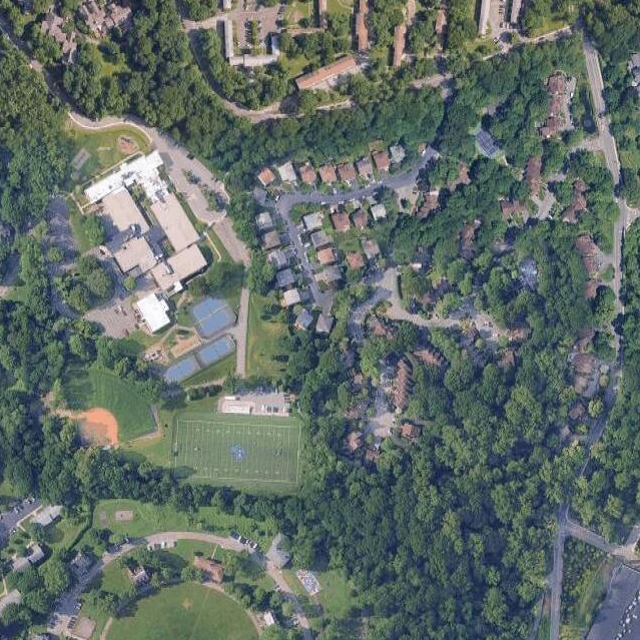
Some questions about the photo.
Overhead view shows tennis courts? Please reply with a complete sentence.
Yes, the frame does contain a tennis court.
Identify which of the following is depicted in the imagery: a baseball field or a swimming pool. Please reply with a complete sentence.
Visible in the photo is a baseball field.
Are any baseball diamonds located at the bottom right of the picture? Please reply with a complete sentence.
No, the scene shows no baseball diamond at the bottom right of the picture.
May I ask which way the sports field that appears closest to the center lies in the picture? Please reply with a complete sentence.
The sports field that appears closest to the center is laid out from left to right.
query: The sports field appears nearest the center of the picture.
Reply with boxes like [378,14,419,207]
[173,417,303,486]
